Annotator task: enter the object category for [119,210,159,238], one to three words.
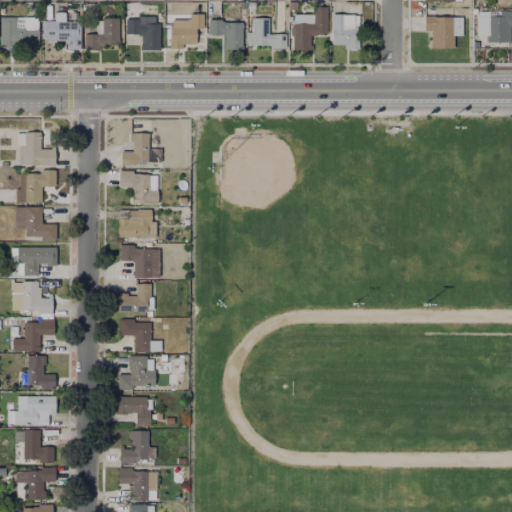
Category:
house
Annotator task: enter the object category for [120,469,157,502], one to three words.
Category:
house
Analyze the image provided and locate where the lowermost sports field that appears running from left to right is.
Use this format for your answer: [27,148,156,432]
[238,322,512,454]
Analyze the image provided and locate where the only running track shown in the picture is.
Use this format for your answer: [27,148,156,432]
[223,308,512,468]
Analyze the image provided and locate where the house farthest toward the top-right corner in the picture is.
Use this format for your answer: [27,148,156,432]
[478,13,512,43]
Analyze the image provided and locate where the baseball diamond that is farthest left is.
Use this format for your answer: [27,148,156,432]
[212,128,296,208]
